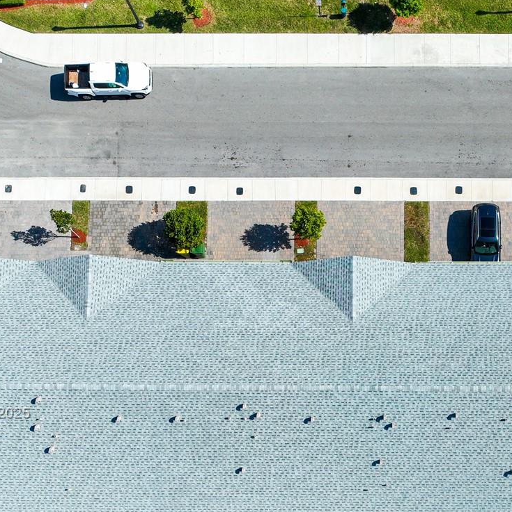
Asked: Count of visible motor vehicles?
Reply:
two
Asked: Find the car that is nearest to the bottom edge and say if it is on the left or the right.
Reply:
right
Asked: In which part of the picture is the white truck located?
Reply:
top left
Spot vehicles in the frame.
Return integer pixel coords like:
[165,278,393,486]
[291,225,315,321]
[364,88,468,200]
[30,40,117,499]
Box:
[469,209,504,260]
[63,60,154,100]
